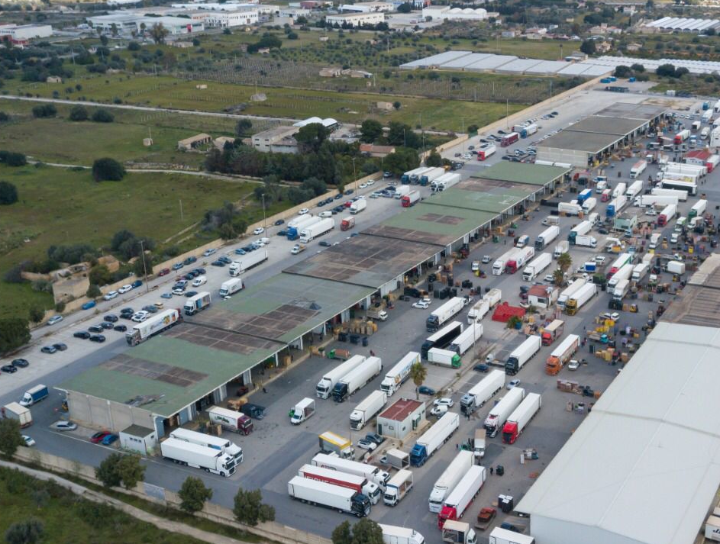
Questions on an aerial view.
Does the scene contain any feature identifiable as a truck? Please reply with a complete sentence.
Yes, you can see a truck in this photo.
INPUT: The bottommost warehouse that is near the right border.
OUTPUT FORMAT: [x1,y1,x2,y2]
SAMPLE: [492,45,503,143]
[511,322,720,544]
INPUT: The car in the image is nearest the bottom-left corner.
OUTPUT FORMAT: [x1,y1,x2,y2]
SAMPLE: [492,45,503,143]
[20,433,37,447]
